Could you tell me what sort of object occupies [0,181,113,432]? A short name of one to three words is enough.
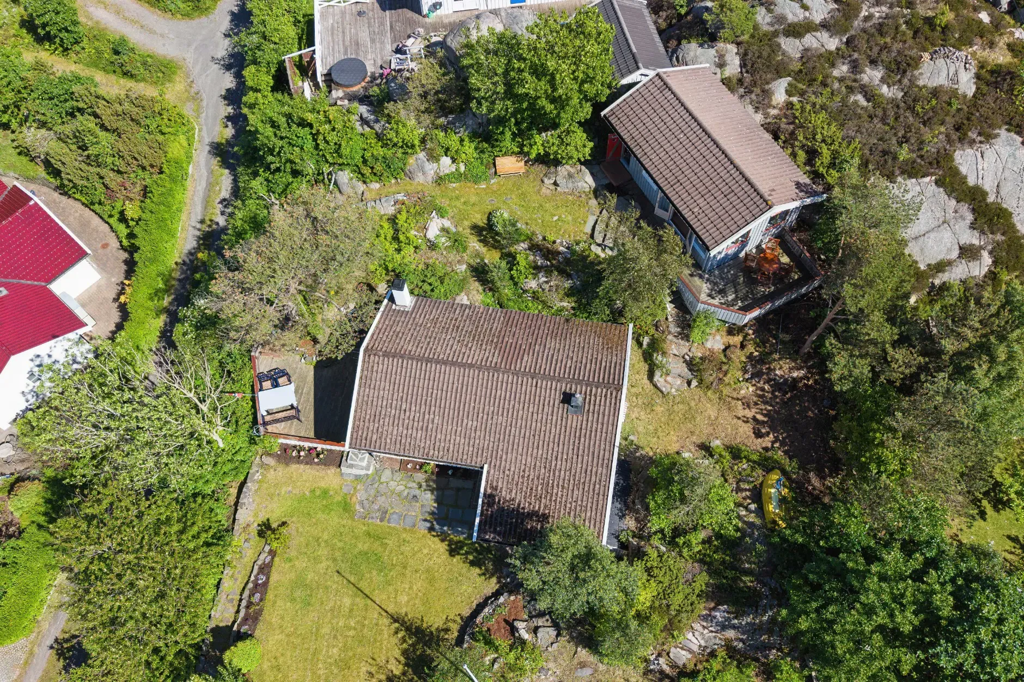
house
